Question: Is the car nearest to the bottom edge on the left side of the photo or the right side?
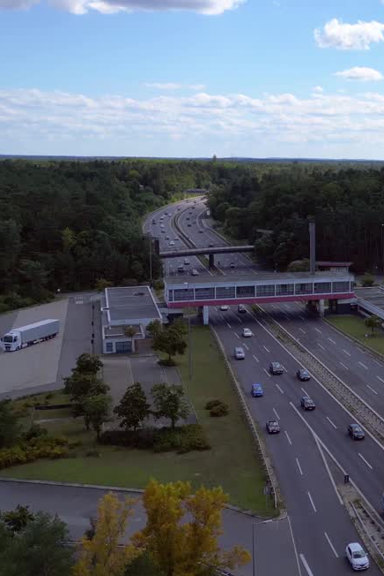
right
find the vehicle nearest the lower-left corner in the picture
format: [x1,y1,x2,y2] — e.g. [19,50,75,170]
[3,319,68,350]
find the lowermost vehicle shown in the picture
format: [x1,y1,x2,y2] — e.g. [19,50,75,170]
[345,542,372,569]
